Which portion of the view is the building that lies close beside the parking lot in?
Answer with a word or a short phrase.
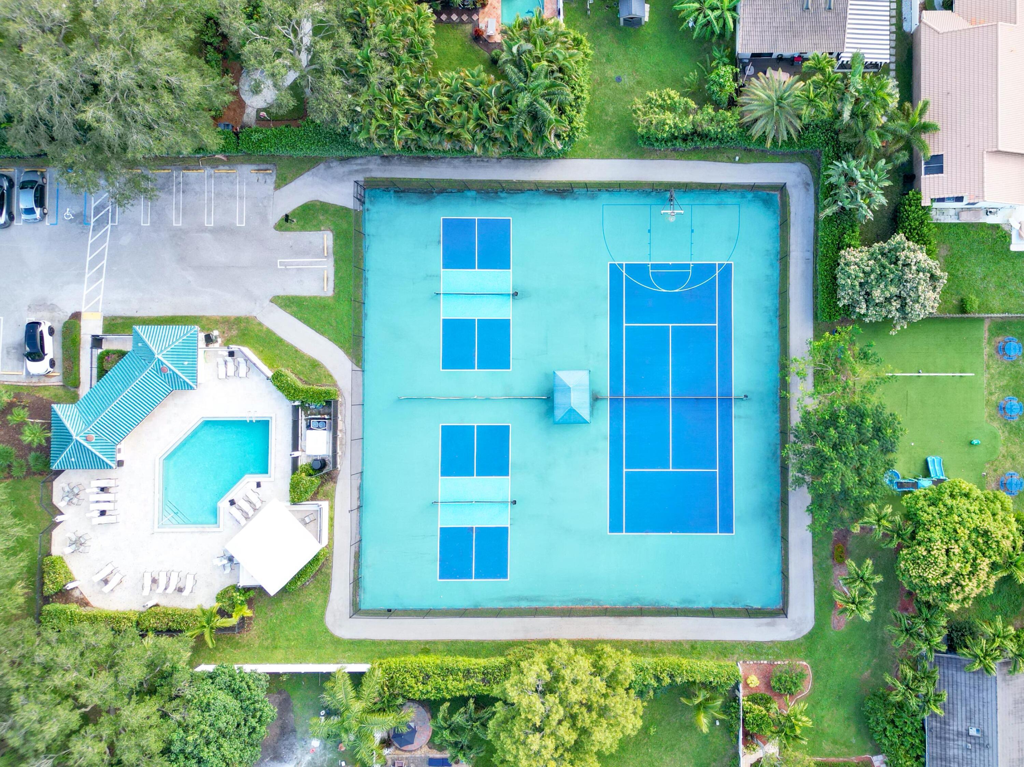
left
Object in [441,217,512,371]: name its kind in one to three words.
sports court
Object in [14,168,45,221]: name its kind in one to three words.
car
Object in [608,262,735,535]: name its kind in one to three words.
tennis court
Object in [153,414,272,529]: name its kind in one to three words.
swimming pool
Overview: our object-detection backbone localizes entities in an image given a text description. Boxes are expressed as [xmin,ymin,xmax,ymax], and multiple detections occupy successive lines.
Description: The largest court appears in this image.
[361,189,782,609]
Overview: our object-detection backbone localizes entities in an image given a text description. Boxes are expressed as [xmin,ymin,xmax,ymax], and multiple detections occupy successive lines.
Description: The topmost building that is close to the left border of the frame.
[50,325,209,470]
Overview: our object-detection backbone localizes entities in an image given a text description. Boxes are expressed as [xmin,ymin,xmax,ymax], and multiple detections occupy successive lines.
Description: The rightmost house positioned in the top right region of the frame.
[913,0,1024,208]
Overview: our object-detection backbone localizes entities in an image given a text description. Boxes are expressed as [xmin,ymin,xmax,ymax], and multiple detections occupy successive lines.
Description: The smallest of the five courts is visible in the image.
[603,204,739,291]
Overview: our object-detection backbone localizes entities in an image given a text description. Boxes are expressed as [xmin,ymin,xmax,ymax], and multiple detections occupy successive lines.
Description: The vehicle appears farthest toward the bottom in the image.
[22,321,54,374]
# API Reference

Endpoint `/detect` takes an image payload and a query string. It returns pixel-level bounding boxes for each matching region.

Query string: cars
[0,171,13,226]
[22,321,54,374]
[14,168,45,221]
